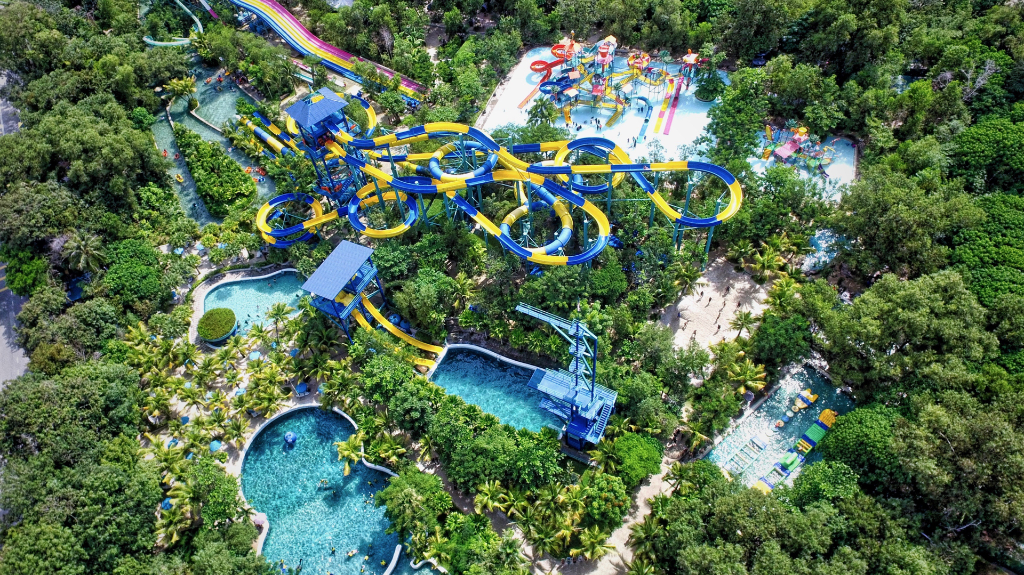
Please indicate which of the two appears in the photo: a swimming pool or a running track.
swimming pool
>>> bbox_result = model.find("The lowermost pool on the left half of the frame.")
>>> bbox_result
[241,405,445,575]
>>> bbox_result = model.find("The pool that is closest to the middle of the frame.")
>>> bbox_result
[431,346,574,433]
